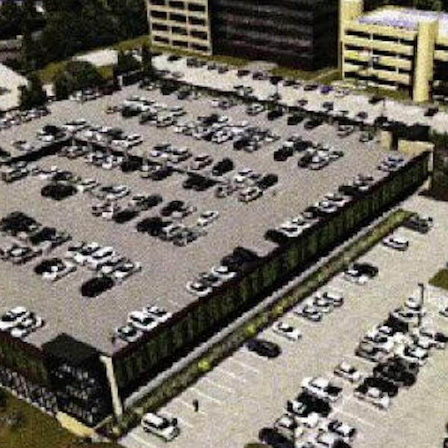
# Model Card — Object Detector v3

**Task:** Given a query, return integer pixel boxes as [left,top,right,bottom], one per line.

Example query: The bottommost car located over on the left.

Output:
[141,411,180,441]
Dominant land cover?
buildings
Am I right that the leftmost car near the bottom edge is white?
Yes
